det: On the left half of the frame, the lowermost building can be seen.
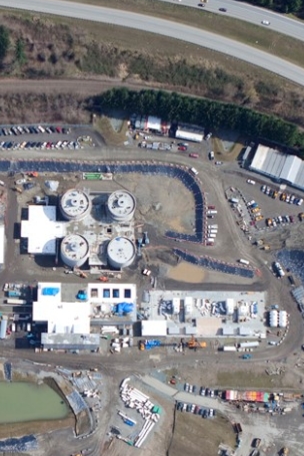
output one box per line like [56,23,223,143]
[33,283,136,346]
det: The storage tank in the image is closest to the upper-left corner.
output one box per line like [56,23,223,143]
[61,189,89,222]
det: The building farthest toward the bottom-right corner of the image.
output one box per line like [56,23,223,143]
[141,292,266,338]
